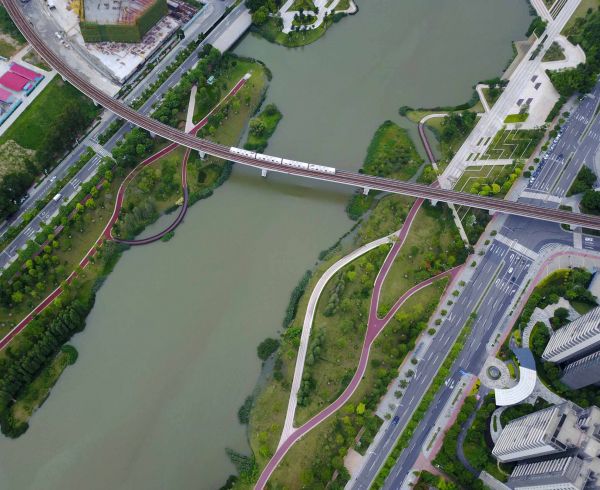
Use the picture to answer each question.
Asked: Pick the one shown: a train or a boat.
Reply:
train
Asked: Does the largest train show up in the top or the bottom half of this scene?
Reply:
top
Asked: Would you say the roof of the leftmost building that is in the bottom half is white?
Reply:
Yes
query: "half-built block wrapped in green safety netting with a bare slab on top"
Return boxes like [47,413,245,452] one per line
[77,0,178,42]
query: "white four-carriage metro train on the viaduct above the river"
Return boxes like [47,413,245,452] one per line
[231,149,336,175]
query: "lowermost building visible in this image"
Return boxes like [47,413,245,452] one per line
[496,402,600,490]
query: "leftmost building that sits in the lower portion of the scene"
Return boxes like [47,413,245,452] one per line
[492,348,536,406]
